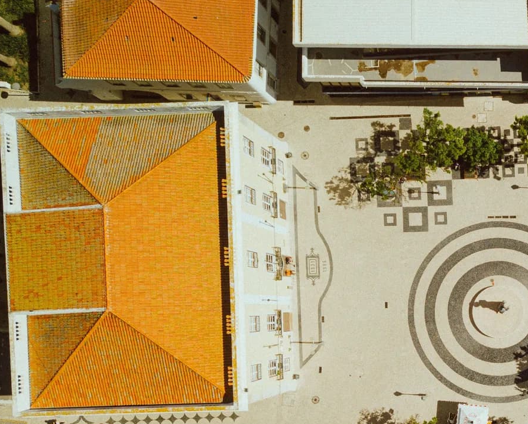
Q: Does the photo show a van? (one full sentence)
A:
No, this view has no van in it.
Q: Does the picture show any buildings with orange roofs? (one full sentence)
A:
Yes, a building with an orange roof can be made out from above.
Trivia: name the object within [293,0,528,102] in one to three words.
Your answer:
building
